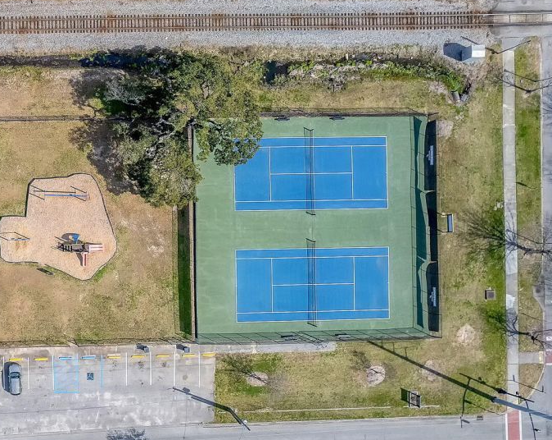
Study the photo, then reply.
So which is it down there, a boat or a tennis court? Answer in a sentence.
Visible in the photo is a tennis court.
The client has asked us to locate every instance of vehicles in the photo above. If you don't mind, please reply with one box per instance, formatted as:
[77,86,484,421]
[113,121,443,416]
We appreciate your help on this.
[8,362,23,396]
